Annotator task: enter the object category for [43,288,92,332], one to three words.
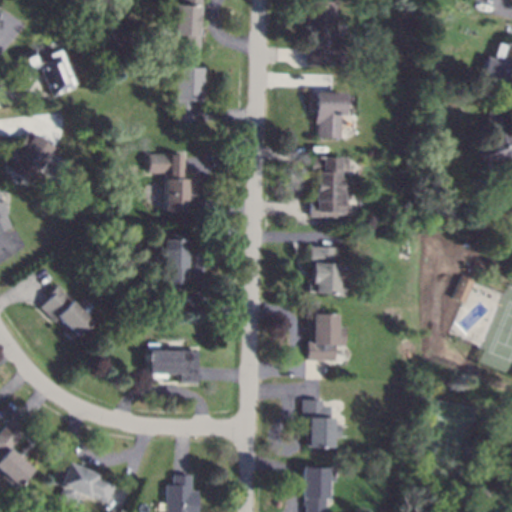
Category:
house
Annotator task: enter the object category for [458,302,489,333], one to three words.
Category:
swimming pool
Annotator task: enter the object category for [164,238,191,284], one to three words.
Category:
house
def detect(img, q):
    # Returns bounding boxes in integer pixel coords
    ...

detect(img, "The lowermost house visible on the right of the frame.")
[304,469,334,512]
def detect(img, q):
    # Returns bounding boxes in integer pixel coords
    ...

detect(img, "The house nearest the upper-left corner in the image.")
[36,50,78,96]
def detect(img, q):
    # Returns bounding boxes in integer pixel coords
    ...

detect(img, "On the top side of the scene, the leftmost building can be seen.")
[8,138,55,182]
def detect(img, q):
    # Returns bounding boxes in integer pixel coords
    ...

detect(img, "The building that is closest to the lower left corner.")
[0,428,32,492]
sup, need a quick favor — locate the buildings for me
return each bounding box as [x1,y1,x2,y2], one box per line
[312,156,350,219]
[178,0,204,48]
[152,350,199,382]
[149,151,194,212]
[0,428,32,492]
[312,246,346,296]
[164,238,191,284]
[63,462,118,506]
[317,92,353,140]
[8,138,55,182]
[165,474,198,512]
[490,40,512,78]
[178,66,208,109]
[304,469,334,512]
[43,288,92,332]
[453,276,474,304]
[302,400,344,450]
[36,50,78,96]
[308,314,348,360]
